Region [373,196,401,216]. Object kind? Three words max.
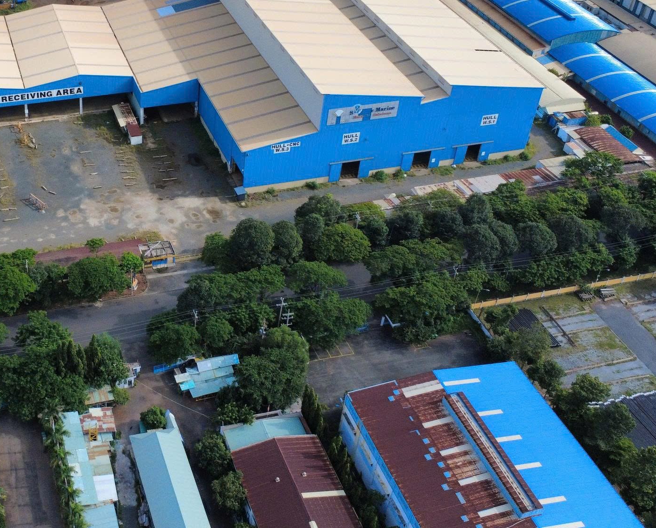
shed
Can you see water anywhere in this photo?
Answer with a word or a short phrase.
No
